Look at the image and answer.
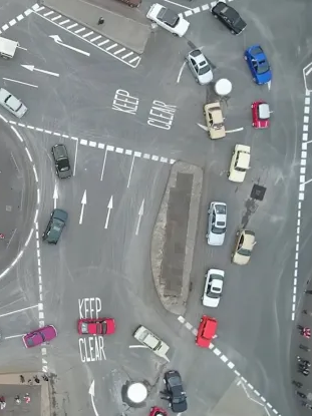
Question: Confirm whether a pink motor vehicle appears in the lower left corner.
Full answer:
Yes, looking in the lower left corner, one can make out a pink motor vehicle.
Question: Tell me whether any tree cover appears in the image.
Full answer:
No, there's no tree cover in this view.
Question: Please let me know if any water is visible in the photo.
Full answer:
No, no water is visible.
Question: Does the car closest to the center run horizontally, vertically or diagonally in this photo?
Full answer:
In this picture, the car closest to the center is oriented vertically.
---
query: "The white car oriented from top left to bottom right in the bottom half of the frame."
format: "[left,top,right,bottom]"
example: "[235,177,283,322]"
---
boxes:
[132,325,171,357]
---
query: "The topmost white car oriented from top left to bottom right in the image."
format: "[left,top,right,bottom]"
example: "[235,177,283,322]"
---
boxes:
[147,3,189,36]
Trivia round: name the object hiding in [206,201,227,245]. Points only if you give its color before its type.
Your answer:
white car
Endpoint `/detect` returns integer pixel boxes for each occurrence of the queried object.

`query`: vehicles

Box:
[0,88,28,119]
[159,369,187,413]
[194,315,218,348]
[231,229,255,265]
[227,144,250,182]
[187,49,212,85]
[245,44,271,84]
[203,102,226,139]
[0,35,19,59]
[211,1,244,34]
[117,0,141,7]
[44,208,68,245]
[250,100,271,129]
[77,317,116,336]
[52,143,73,179]
[201,268,224,308]
[132,325,171,357]
[206,201,227,245]
[22,324,57,349]
[147,3,189,36]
